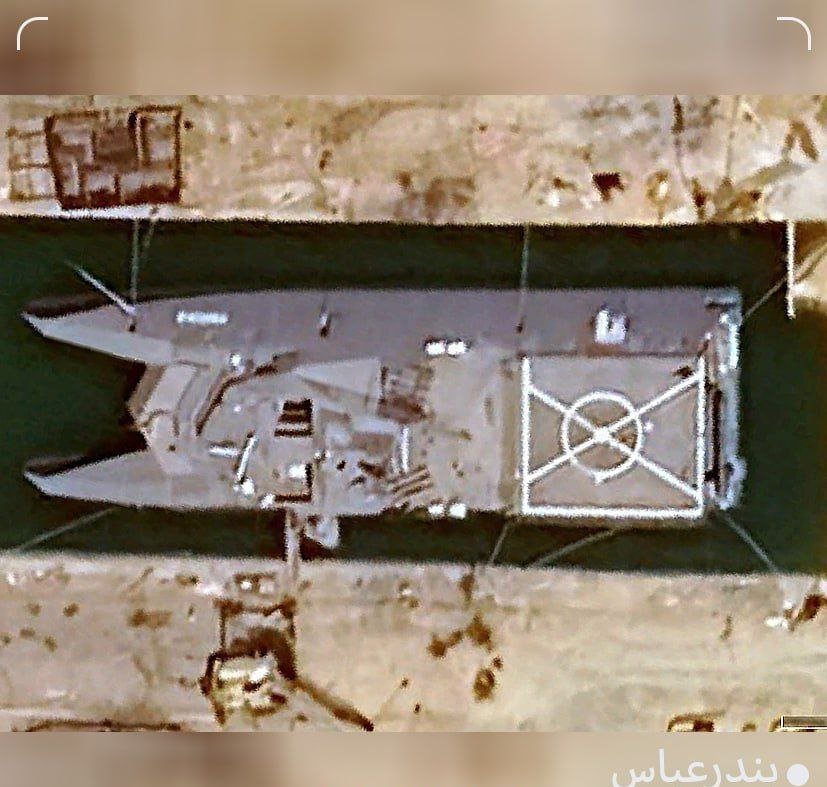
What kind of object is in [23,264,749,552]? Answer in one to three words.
ship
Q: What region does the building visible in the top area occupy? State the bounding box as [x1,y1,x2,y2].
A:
[43,102,182,215]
